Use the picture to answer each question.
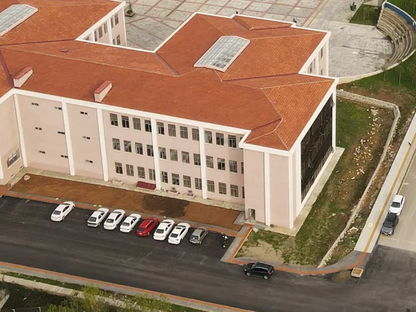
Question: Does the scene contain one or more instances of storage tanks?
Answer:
No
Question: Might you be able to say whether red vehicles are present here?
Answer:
Yes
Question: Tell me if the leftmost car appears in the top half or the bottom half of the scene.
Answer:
bottom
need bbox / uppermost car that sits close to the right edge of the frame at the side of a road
[389,192,406,213]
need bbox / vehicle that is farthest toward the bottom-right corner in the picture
[381,210,399,235]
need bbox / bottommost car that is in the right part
[241,261,276,280]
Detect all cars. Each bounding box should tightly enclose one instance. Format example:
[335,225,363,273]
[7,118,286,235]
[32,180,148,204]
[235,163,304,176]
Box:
[185,224,209,244]
[389,192,406,213]
[117,210,143,231]
[101,208,127,229]
[151,217,177,239]
[381,210,399,235]
[135,214,159,236]
[241,261,276,280]
[85,205,110,226]
[167,220,192,243]
[48,200,75,220]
